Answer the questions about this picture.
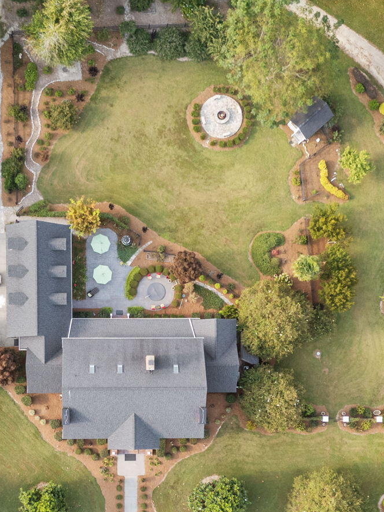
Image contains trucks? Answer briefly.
No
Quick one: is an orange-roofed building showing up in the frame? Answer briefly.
No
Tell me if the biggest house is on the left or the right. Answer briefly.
left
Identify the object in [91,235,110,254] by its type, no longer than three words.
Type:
umbrella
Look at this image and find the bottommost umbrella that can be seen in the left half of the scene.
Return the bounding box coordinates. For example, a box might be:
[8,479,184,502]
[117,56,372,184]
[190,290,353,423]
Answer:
[94,265,112,284]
